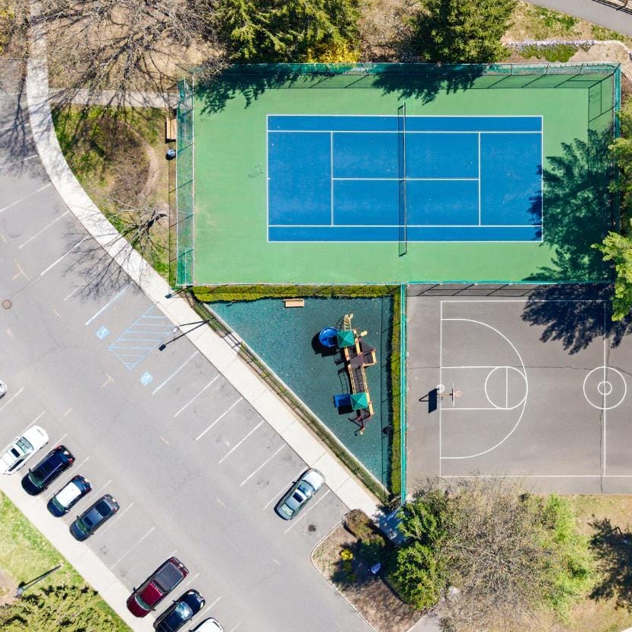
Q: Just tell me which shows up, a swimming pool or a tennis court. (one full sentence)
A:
It is a tennis court that can be seen here.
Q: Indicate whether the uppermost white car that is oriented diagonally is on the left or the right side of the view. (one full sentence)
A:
The uppermost white car that is oriented diagonally sits on the left side.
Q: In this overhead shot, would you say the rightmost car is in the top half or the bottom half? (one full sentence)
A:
The rightmost car is in the bottom half of the image.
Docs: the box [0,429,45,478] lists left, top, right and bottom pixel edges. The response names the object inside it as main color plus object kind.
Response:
white car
